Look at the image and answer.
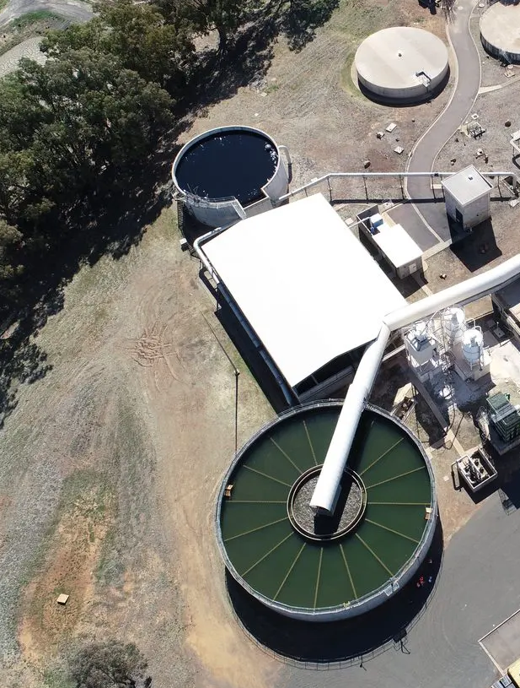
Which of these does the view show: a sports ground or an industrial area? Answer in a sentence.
What you see here is an industrial area.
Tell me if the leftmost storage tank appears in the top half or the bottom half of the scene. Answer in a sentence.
The leftmost storage tank sits in the top half of the picture.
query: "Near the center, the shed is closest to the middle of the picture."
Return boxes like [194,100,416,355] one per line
[201,193,413,402]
